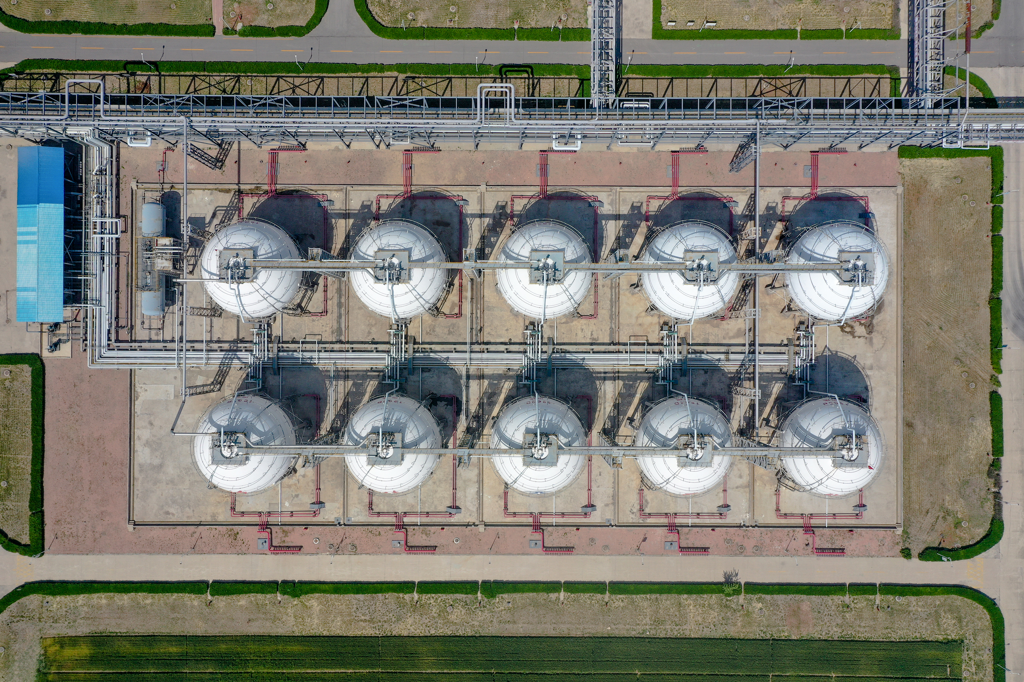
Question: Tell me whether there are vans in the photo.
No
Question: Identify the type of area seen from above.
industrial area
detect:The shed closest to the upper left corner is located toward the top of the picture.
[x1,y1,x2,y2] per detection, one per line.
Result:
[17,144,78,322]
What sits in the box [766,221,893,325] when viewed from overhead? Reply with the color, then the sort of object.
white storage tank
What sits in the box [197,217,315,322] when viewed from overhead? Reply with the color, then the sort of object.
white storage tank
